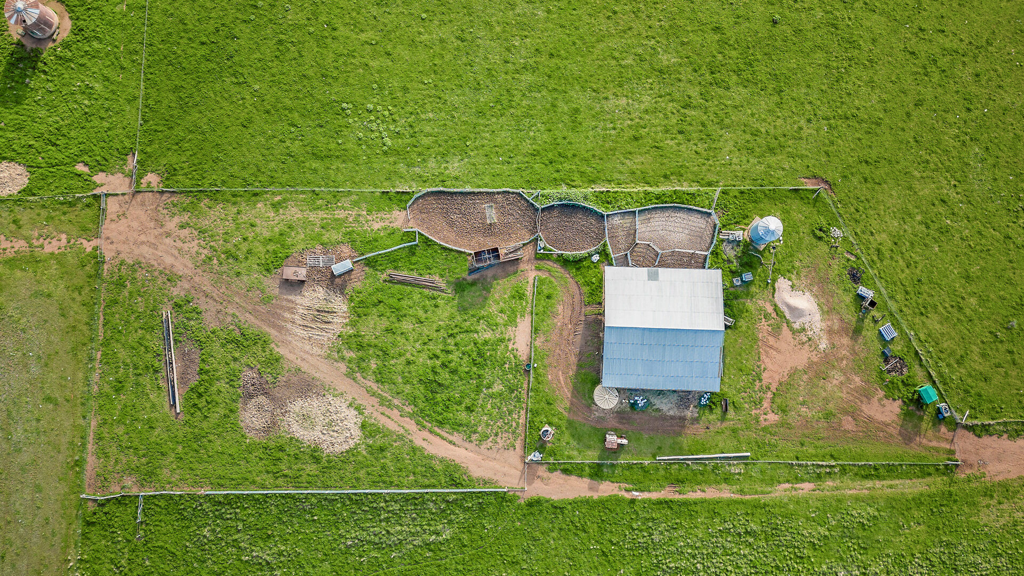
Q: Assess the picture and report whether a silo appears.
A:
Yes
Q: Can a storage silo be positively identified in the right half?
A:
Yes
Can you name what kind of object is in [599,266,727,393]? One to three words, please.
barn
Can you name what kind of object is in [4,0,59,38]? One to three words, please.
silo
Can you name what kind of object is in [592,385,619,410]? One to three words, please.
water tank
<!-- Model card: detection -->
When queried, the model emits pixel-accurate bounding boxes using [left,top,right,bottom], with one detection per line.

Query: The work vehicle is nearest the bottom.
[605,429,628,451]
